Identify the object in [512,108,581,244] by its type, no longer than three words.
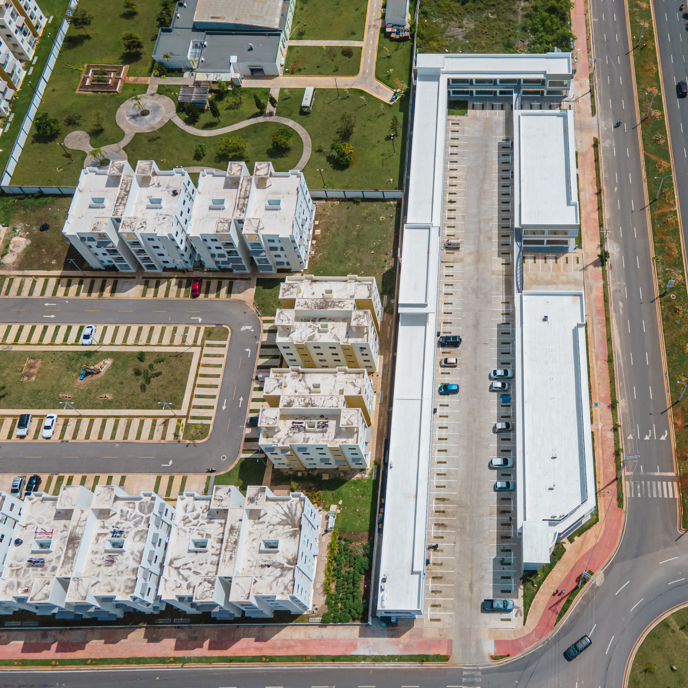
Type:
building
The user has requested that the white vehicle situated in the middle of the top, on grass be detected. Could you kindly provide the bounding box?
[300,84,317,113]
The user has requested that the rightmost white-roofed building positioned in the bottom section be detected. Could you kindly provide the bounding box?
[513,289,597,564]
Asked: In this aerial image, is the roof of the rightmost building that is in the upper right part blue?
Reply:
No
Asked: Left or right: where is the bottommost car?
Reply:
right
